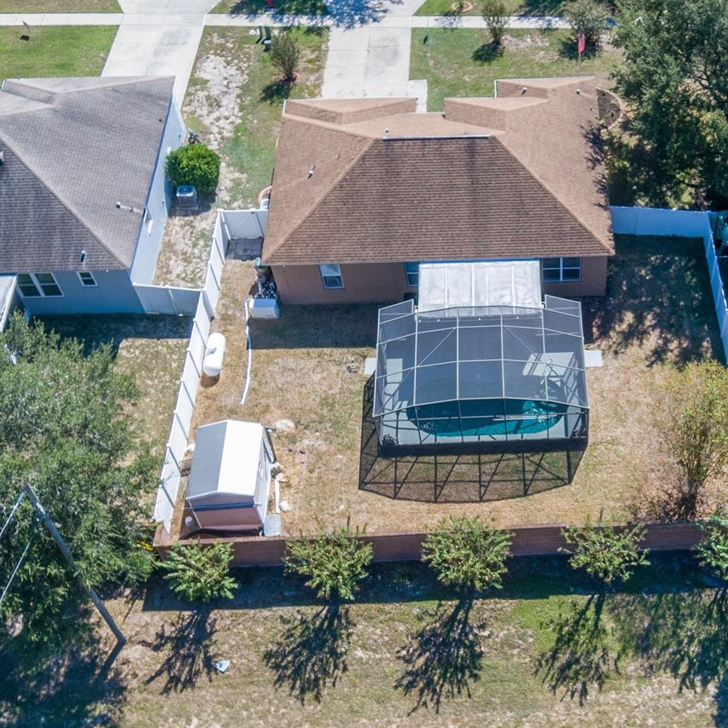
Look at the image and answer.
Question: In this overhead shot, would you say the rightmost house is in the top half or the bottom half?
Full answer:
You can find the rightmost house in the top half.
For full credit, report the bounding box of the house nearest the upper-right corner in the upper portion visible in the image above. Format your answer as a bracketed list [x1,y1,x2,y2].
[259,74,617,306]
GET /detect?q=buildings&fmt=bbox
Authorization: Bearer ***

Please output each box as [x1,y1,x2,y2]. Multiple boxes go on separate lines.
[259,74,617,306]
[187,421,277,529]
[0,70,186,317]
